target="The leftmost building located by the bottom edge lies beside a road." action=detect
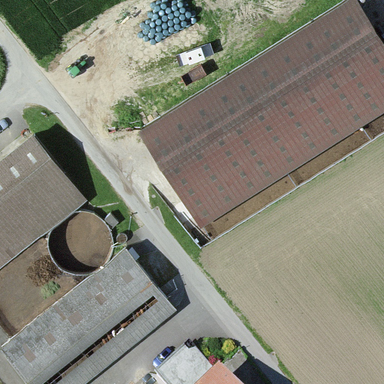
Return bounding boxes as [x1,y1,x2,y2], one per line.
[2,247,176,384]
